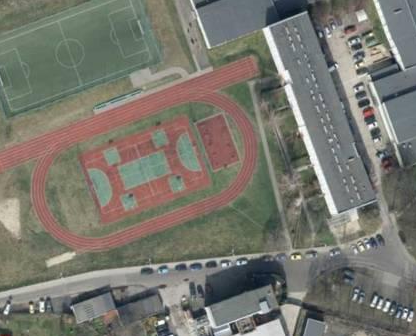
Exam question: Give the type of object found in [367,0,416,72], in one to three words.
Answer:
building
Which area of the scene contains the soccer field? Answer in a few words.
top left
